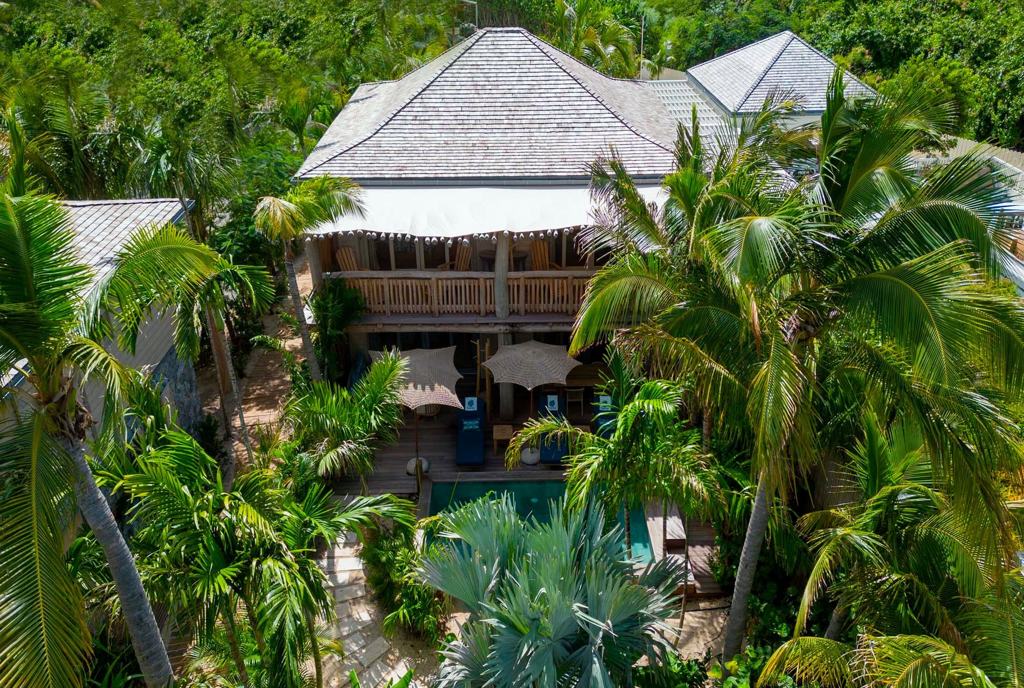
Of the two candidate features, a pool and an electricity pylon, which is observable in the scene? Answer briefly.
pool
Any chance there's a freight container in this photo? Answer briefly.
No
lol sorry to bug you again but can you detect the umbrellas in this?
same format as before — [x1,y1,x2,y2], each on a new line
[482,340,581,470]
[361,347,465,480]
